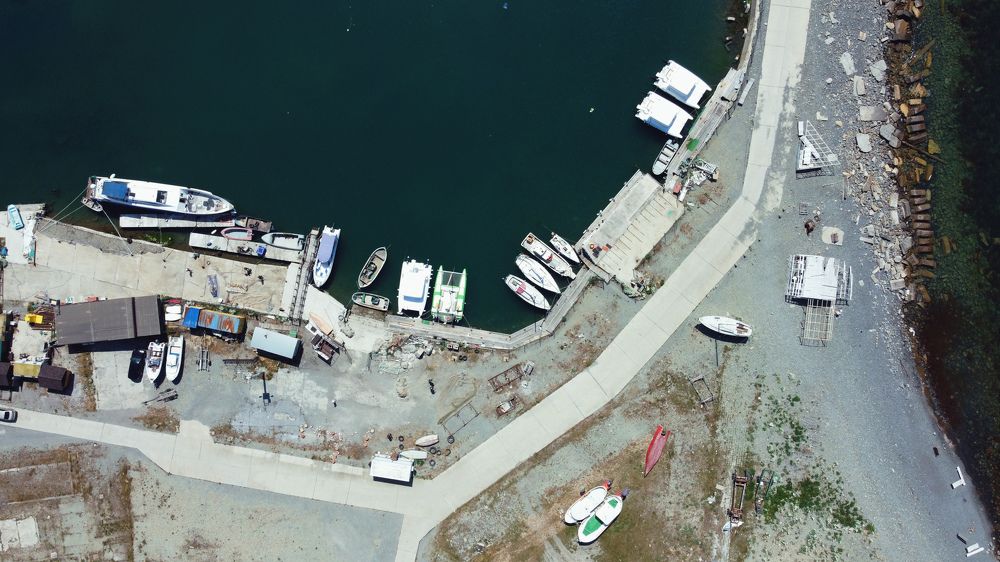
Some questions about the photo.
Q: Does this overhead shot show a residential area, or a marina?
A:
marina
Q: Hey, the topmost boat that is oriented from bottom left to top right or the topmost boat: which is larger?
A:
the topmost boat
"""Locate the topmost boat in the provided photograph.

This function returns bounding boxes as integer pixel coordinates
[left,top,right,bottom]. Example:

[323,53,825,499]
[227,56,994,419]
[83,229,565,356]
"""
[652,64,708,108]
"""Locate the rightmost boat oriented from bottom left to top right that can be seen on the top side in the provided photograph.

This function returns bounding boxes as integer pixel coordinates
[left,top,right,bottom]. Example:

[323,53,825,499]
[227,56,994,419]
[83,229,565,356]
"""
[654,138,681,174]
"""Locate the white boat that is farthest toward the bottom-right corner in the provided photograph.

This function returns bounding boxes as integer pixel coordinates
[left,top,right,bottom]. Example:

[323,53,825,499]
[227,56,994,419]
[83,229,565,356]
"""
[697,313,755,336]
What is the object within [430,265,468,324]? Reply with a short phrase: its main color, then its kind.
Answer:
white boat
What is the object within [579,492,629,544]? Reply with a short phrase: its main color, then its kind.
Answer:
white boat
